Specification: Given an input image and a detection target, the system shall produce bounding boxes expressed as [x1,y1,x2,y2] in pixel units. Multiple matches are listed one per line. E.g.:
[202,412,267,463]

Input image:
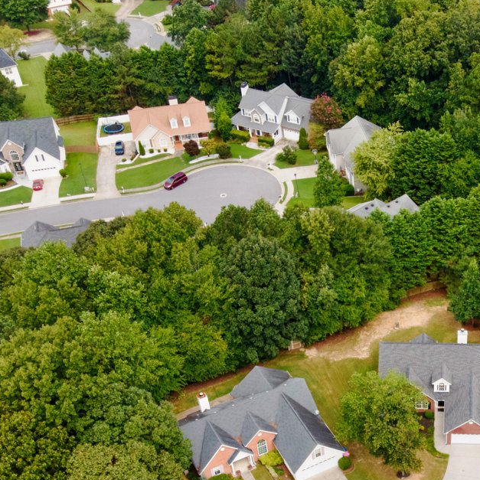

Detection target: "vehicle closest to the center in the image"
[162,166,190,188]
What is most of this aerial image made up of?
trees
